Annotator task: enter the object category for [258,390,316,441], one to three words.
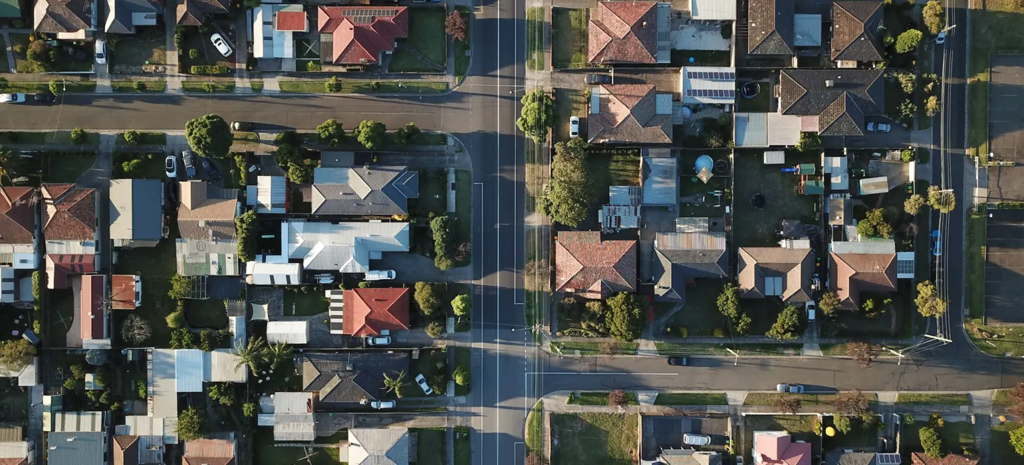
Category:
building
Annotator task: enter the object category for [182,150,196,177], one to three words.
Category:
vehicle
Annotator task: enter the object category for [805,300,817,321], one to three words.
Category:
vehicle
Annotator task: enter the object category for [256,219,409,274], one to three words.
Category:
house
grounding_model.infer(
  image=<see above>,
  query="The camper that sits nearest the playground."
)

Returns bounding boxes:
[850,177,887,193]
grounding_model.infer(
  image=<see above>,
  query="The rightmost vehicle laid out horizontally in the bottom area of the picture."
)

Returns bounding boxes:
[775,382,804,394]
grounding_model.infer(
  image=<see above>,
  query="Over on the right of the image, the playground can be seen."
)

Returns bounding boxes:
[781,164,824,194]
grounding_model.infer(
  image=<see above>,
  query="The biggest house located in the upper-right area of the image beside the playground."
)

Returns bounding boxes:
[731,69,885,147]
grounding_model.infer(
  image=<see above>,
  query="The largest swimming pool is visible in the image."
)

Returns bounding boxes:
[694,154,713,172]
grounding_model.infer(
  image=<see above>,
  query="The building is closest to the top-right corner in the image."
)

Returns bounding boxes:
[828,0,893,68]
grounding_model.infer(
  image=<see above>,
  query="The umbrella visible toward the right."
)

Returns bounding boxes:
[696,167,714,185]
